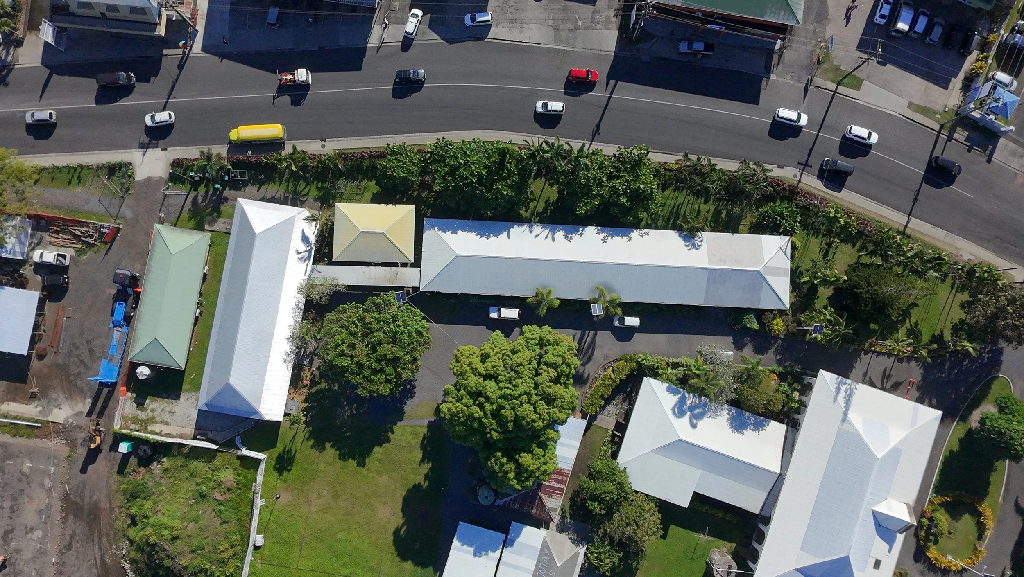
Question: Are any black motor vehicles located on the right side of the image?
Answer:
Yes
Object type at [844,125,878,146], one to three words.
car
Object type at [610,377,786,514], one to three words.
house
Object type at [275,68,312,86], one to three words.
vehicle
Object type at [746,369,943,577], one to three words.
building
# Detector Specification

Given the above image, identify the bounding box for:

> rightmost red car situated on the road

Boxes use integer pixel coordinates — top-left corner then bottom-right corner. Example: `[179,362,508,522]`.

[568,68,598,84]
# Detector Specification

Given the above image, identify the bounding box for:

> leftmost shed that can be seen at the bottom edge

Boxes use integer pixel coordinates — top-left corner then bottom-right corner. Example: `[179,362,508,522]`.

[442,520,506,577]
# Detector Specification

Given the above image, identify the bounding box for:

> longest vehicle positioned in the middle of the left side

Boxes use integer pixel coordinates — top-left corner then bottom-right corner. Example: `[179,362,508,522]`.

[83,268,136,382]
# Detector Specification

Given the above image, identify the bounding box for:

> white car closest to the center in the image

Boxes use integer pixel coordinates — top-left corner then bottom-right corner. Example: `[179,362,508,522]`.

[489,306,520,321]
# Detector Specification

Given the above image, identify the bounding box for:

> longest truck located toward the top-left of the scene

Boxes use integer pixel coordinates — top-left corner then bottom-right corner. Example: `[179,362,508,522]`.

[229,124,291,146]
